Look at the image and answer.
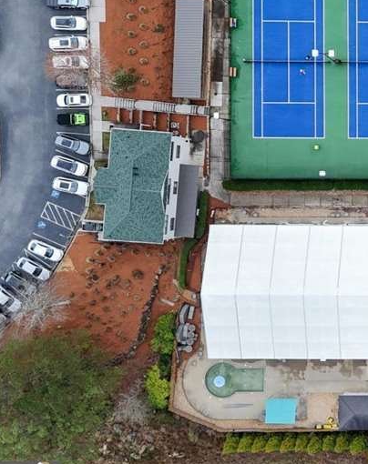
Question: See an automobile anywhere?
Yes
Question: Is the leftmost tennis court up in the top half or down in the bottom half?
top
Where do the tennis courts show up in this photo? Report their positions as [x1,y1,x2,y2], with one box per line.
[336,0,368,179]
[230,0,336,179]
